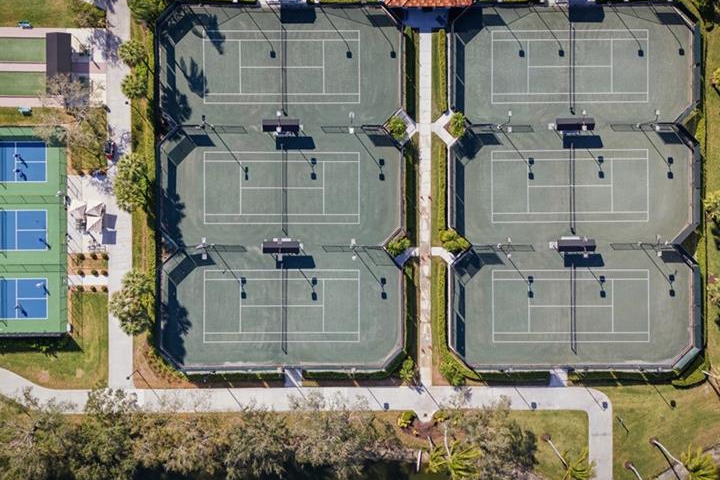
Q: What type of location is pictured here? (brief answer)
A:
sports ground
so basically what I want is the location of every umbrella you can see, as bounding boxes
[70,201,88,219]
[87,217,103,232]
[88,200,104,216]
